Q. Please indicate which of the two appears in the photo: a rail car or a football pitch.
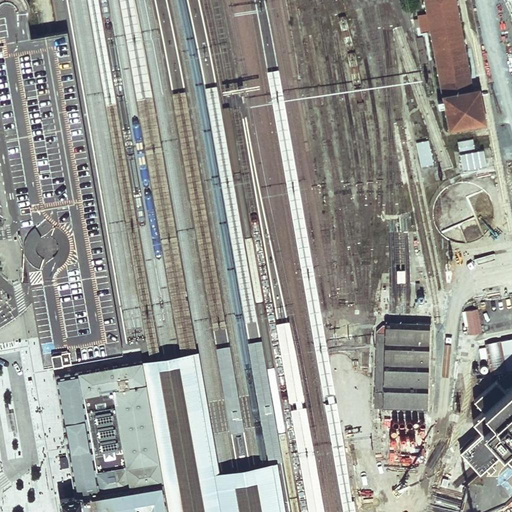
rail car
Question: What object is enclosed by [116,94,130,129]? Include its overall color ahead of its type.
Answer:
gray rail car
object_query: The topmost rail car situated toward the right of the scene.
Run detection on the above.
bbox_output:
[340,14,354,48]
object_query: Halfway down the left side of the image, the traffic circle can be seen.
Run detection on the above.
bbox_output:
[24,224,70,270]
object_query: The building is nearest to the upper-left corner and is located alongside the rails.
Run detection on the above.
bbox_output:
[28,19,68,40]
